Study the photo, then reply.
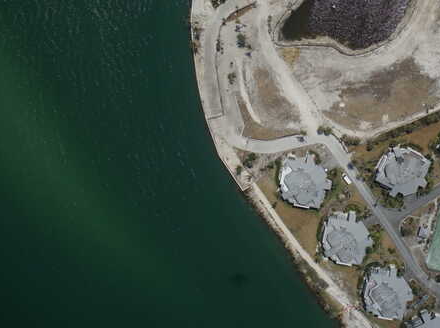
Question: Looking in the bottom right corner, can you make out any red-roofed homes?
No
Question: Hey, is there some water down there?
Yes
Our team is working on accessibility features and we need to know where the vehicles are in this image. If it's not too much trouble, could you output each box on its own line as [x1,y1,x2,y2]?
[419,296,427,303]
[341,173,352,184]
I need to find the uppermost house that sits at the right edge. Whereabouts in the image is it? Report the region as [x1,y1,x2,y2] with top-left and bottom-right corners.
[375,147,431,197]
